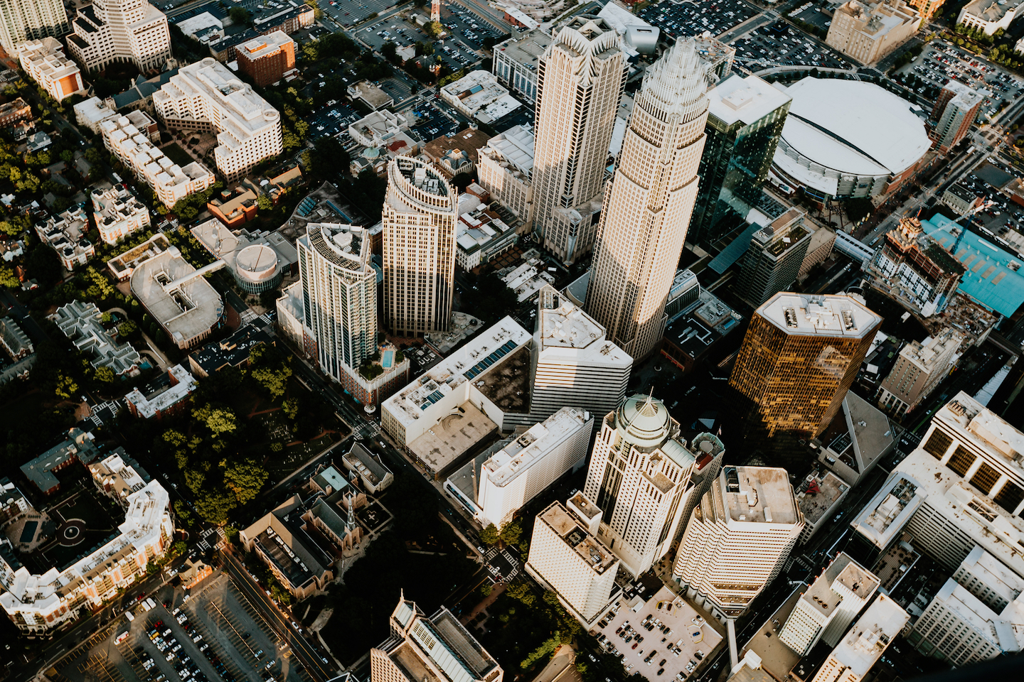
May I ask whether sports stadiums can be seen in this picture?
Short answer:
Yes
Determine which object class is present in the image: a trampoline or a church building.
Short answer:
church building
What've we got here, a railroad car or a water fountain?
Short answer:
water fountain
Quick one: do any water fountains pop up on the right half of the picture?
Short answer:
No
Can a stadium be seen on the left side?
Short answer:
No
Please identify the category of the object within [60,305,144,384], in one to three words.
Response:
house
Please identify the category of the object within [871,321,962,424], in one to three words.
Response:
building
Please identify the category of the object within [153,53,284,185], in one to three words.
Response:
building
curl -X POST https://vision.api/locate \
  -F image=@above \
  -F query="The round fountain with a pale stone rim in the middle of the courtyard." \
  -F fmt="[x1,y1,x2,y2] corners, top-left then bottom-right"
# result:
[53,518,88,547]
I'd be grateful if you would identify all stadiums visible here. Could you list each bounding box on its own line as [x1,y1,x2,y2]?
[766,76,932,206]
